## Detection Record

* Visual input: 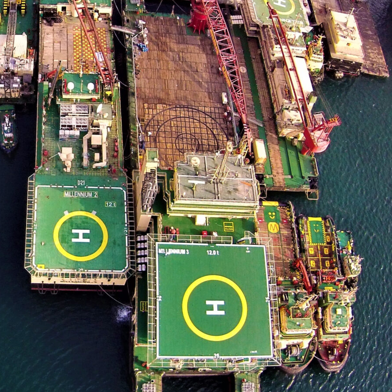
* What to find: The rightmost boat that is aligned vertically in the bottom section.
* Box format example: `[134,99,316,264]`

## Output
[332,227,366,293]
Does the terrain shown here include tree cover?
No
